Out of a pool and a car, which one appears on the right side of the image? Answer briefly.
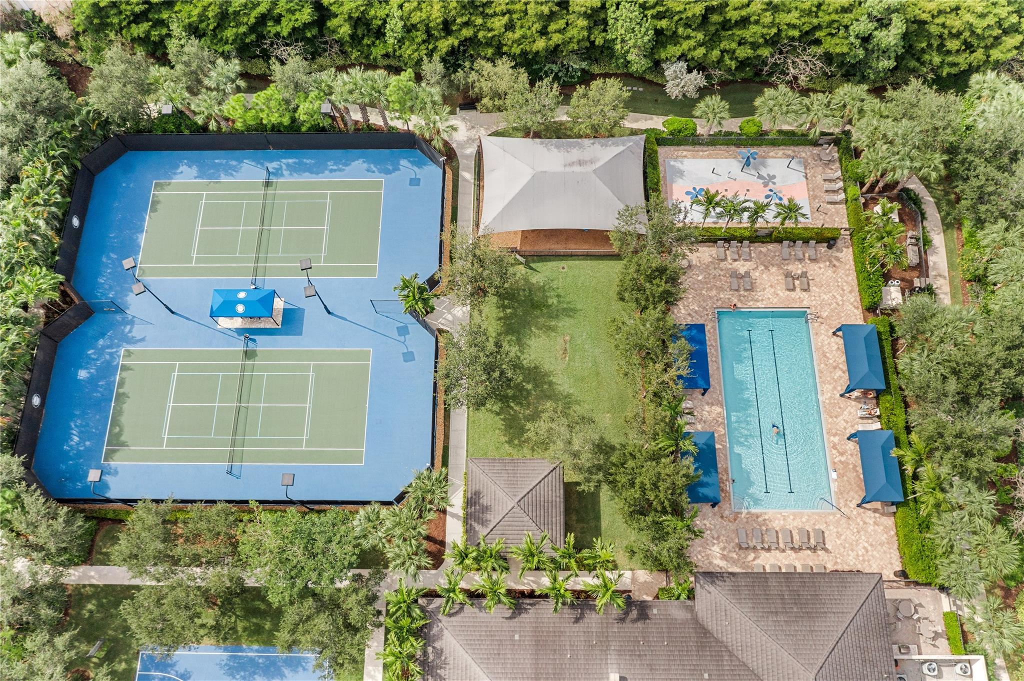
pool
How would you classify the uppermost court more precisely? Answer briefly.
tennis court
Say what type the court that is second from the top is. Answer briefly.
tennis court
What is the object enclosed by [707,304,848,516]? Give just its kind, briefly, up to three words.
swimming pool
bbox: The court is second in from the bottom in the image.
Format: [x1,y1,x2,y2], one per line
[102,349,371,464]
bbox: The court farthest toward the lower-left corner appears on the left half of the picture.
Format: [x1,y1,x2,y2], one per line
[133,645,340,681]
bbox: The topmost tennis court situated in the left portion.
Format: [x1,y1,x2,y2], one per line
[136,179,384,278]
